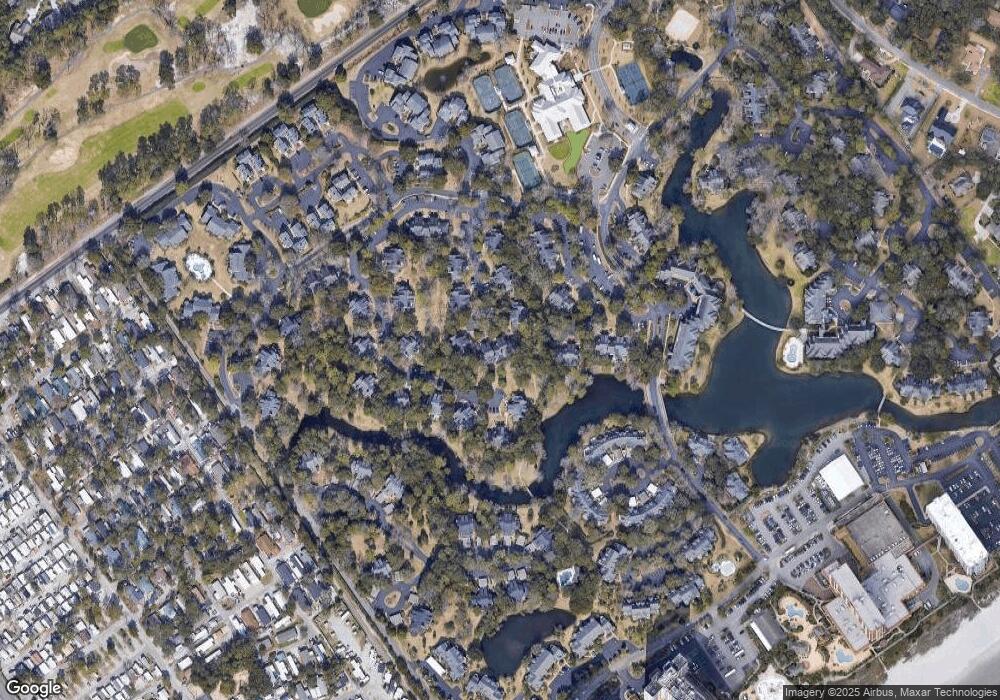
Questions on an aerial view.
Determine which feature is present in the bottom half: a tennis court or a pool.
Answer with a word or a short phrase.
pool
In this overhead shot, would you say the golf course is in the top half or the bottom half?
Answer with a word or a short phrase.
top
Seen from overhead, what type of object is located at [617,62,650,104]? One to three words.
tennis court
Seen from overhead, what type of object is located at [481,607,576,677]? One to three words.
pond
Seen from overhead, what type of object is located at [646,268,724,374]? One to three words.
building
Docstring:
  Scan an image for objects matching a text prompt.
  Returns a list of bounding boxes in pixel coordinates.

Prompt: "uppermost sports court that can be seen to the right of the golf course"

[665,9,701,41]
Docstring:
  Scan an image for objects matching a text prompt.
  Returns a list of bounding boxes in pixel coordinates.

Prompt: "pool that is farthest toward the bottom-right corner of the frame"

[944,573,972,593]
